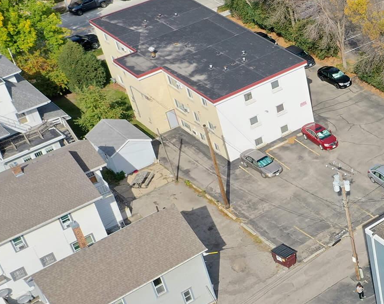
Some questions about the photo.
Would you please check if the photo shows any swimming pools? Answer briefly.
No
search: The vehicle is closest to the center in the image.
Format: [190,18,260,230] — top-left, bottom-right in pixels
[240,148,283,178]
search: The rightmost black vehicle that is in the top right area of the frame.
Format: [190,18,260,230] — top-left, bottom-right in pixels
[316,66,353,89]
